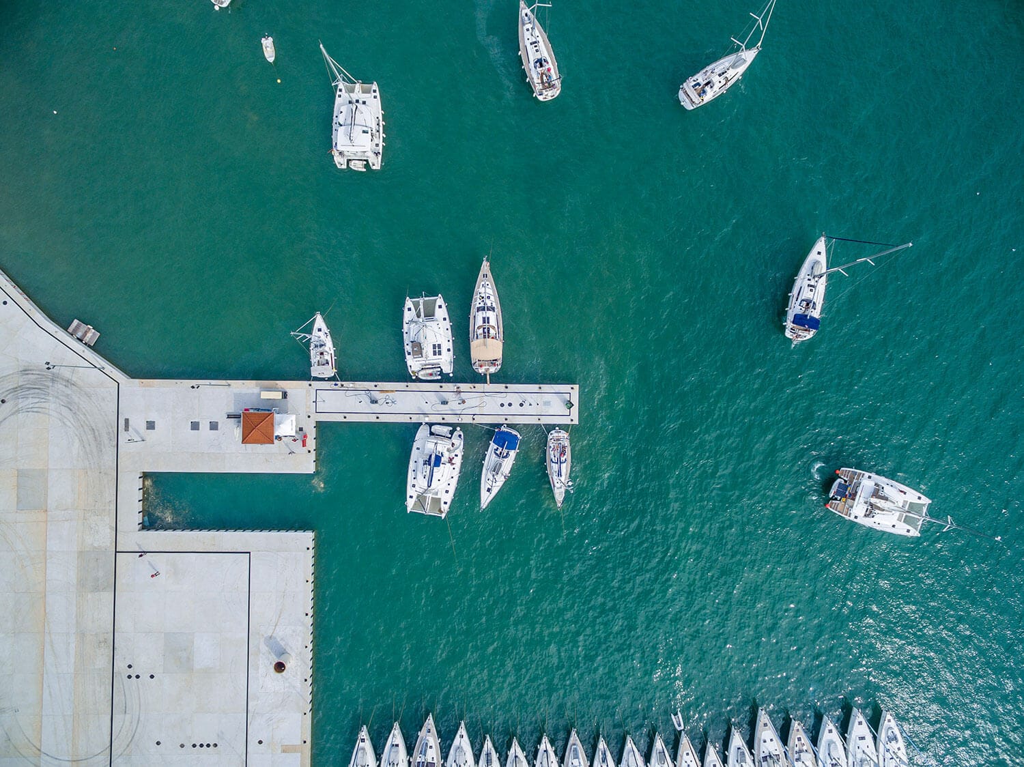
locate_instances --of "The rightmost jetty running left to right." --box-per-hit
[314,381,578,424]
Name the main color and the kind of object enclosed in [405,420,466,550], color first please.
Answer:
white boat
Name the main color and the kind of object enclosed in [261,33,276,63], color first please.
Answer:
white boat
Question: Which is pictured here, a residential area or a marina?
marina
